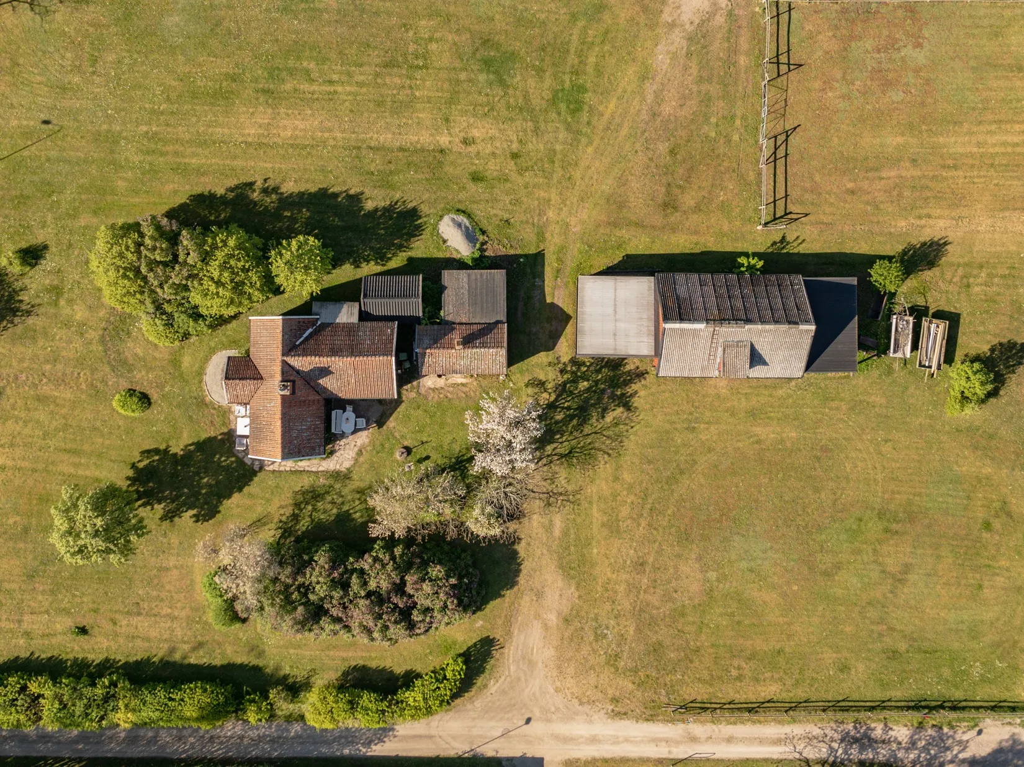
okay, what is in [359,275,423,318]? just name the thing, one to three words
shed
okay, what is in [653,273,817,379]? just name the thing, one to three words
barn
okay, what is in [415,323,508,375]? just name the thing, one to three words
shed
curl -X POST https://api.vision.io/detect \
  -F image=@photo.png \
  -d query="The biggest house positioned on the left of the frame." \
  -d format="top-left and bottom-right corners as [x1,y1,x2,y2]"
[222,302,397,461]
